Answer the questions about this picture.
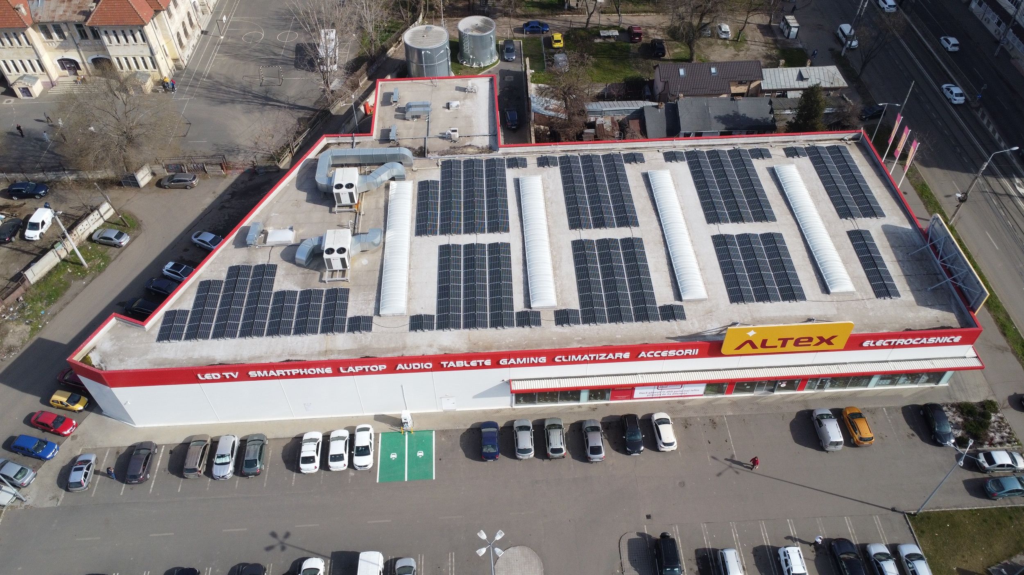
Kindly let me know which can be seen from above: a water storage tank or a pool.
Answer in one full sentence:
The one in the frame is a water storage tank.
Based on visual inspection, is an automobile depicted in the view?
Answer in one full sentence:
Yes, an automobile appears in the view.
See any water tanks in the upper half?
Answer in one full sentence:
Yes, in the upper half there is a water tank.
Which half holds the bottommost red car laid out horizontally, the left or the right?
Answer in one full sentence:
The bottommost red car laid out horizontally sits on the left side.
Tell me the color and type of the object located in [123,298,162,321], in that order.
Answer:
black car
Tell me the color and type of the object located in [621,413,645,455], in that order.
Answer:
black car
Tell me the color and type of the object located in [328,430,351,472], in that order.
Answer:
white car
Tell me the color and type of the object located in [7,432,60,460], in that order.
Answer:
blue car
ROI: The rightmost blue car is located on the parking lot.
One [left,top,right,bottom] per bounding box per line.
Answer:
[983,473,1024,498]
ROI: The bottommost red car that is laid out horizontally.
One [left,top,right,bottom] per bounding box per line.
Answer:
[28,409,77,436]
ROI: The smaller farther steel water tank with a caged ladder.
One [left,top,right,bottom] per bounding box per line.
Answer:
[456,20,498,69]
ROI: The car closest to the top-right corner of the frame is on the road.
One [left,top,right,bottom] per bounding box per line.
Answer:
[939,34,962,51]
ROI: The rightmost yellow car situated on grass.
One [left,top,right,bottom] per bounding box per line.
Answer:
[551,32,564,48]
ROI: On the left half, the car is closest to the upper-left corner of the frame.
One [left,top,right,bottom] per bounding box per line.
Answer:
[7,180,47,199]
